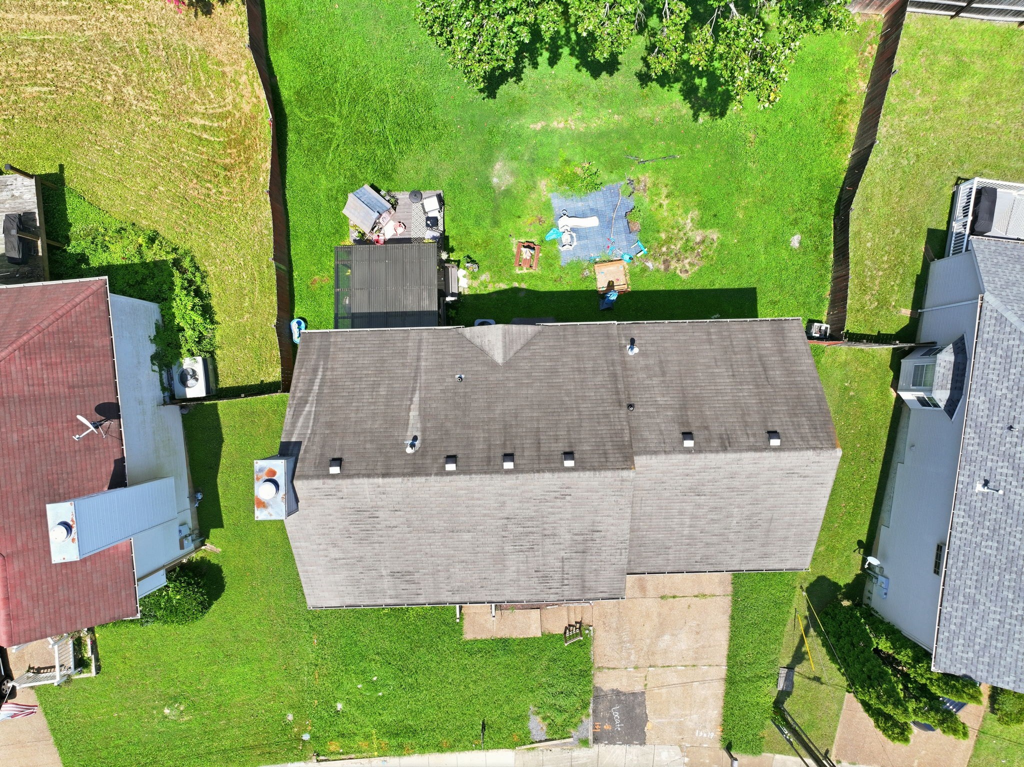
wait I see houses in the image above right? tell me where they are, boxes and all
[252,314,843,612]
[0,274,208,649]
[872,235,1024,694]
